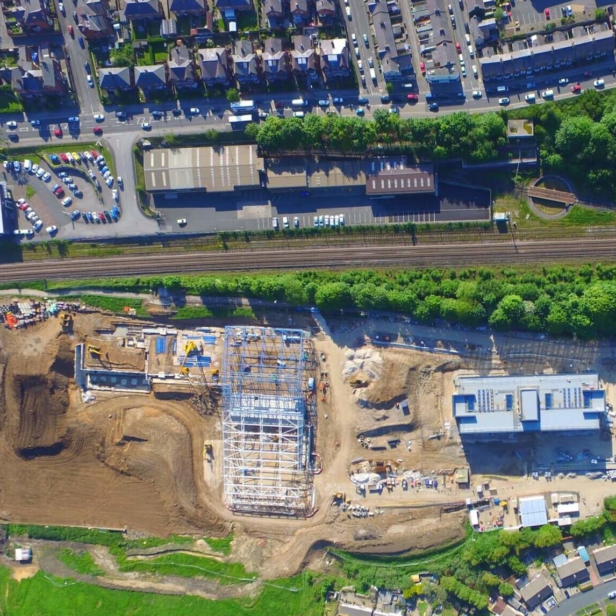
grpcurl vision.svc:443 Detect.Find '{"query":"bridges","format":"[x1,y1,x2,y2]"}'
[528,186,575,206]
